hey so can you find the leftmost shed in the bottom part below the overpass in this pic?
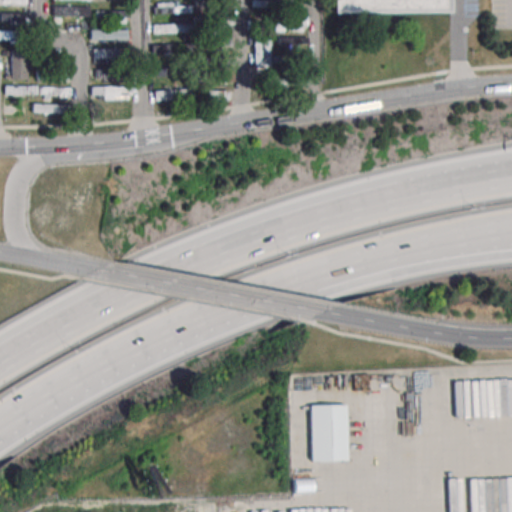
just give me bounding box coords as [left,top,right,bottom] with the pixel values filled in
[294,478,317,493]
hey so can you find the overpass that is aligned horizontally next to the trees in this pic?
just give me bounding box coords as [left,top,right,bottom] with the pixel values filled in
[80,256,336,324]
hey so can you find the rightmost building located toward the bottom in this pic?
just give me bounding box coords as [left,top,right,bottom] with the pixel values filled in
[310,404,349,462]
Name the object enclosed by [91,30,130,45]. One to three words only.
house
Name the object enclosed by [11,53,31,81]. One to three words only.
house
